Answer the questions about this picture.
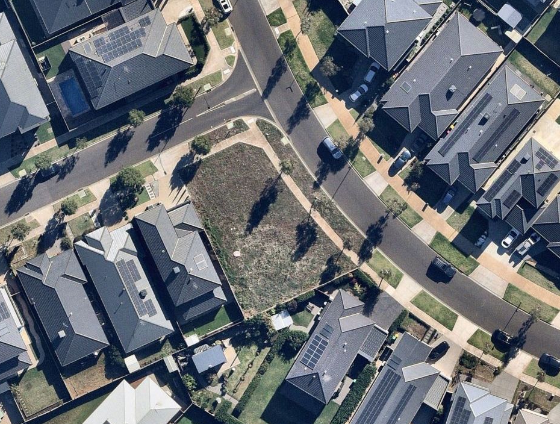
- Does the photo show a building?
Yes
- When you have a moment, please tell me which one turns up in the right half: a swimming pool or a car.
car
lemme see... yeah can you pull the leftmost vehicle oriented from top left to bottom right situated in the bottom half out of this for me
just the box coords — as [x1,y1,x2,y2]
[428,256,457,279]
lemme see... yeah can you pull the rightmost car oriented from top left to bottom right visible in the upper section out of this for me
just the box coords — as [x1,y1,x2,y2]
[321,132,345,163]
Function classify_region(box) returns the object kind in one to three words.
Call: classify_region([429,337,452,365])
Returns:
car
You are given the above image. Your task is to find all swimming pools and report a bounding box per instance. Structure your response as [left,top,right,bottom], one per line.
[59,75,90,113]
